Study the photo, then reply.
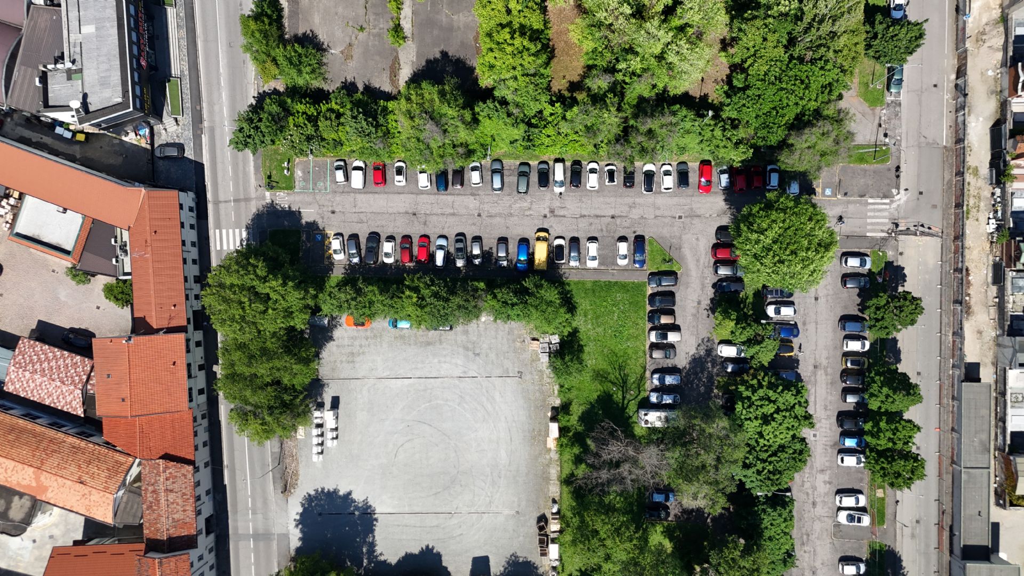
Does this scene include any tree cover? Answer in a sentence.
Yes, there's tree cover in this view.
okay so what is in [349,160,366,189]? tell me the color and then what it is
white car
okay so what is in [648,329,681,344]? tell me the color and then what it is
white car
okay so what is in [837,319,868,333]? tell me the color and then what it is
blue car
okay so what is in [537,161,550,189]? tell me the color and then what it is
black vehicle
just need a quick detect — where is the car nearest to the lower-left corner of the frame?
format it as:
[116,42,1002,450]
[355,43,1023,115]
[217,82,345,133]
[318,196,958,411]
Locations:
[61,330,95,349]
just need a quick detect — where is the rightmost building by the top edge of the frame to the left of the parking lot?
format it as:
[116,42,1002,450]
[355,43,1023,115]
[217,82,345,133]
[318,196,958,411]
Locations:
[41,0,157,140]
